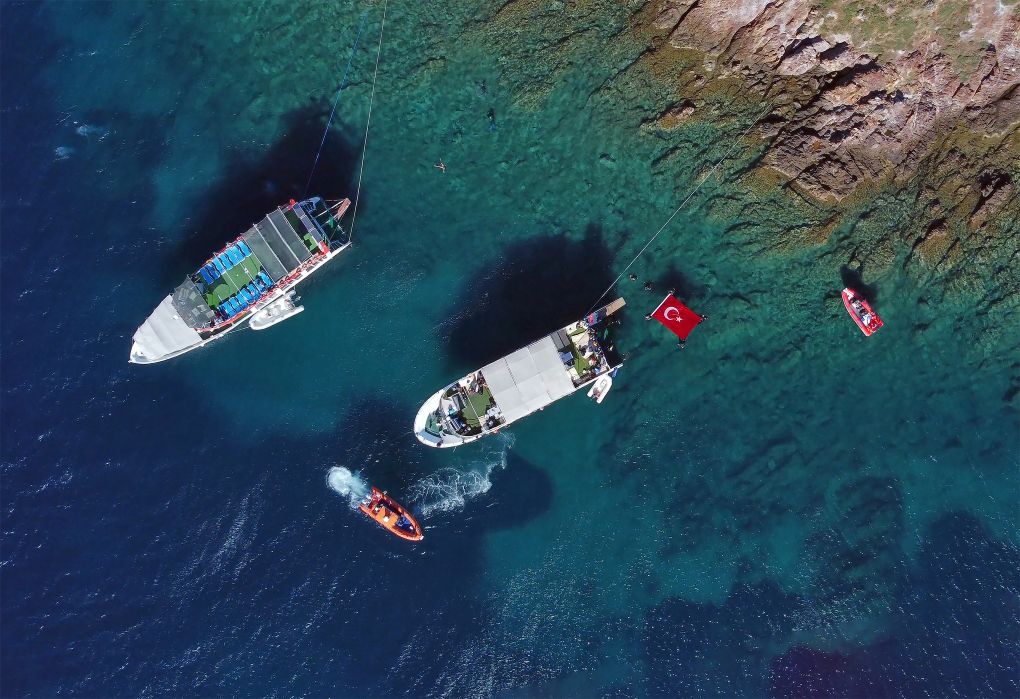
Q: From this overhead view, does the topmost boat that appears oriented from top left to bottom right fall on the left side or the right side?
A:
right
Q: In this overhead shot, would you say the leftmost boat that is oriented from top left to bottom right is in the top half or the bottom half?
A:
bottom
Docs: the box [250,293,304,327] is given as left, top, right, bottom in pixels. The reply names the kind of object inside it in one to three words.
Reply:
boat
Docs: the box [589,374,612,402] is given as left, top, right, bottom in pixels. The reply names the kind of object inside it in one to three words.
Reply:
boat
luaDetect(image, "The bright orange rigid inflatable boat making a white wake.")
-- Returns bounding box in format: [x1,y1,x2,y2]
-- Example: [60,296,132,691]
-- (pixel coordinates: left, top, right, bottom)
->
[360,488,422,542]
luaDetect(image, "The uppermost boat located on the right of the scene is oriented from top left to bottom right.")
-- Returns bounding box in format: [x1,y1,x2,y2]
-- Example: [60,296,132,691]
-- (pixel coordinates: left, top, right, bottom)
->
[843,288,883,336]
